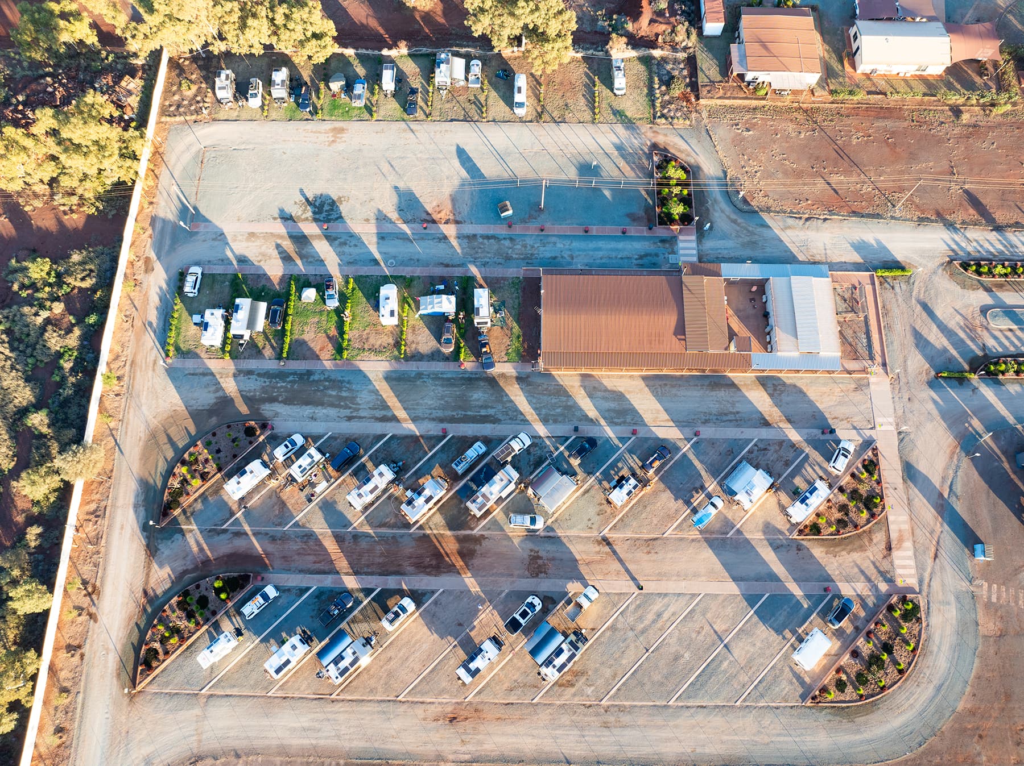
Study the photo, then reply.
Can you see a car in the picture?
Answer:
Yes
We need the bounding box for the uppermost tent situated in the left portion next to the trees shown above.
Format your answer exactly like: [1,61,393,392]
[328,71,345,91]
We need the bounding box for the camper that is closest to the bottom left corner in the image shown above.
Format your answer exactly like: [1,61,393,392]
[197,629,247,670]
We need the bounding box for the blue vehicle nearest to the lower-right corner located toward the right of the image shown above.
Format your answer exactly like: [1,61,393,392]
[825,596,857,631]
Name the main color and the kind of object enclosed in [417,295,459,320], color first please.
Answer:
white vehicle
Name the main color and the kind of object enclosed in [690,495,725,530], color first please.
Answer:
white truck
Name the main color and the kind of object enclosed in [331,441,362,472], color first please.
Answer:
blue car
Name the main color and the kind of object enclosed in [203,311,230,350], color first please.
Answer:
white camper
